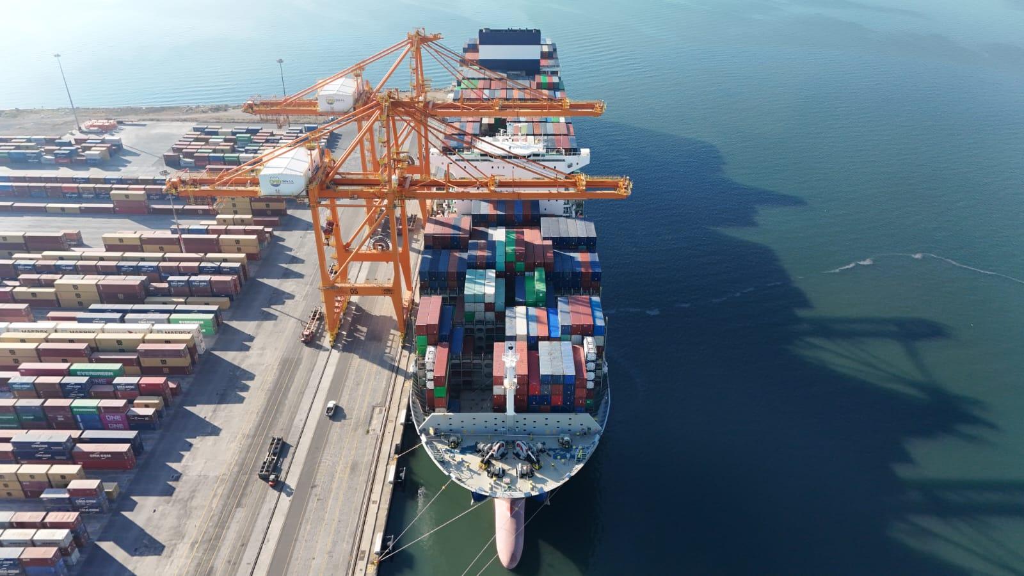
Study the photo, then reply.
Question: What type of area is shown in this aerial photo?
port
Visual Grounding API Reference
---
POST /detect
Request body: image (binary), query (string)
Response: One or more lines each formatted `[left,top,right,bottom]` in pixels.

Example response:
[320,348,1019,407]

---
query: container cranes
[162,82,634,356]
[242,22,605,241]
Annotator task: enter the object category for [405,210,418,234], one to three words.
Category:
vehicle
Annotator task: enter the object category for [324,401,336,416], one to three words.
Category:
vehicle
